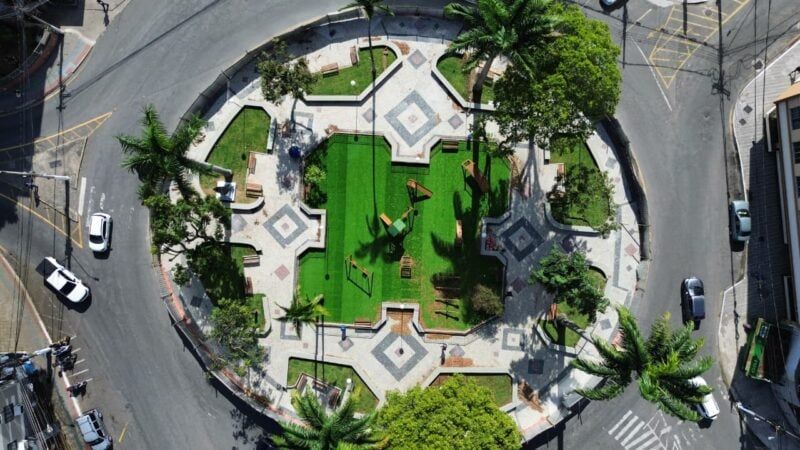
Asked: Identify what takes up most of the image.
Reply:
paved ground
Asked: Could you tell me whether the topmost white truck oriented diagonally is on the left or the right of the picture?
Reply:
left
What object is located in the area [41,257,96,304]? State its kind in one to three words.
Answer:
truck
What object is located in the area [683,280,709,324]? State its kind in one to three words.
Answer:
car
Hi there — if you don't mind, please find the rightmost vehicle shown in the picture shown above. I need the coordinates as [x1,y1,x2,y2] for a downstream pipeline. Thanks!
[726,200,752,242]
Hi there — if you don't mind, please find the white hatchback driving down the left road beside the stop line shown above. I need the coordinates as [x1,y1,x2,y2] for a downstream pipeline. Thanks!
[89,212,115,254]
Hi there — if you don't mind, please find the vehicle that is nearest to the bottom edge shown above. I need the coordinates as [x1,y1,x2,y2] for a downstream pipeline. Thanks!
[78,409,115,450]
